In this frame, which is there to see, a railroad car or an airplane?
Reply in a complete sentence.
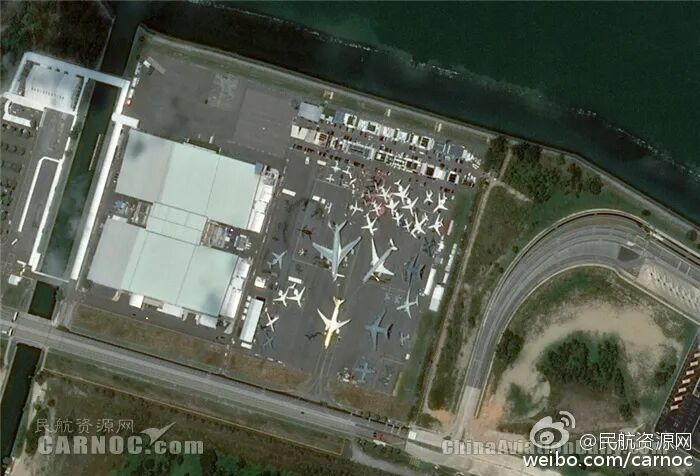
There is an airplane in the scene.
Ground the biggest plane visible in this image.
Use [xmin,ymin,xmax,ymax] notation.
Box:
[313,220,360,279]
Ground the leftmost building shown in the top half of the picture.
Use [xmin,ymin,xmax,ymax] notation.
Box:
[25,64,78,110]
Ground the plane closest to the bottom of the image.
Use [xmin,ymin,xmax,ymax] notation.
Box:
[353,362,375,380]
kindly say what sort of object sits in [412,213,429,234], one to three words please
airplane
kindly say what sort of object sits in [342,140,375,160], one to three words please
house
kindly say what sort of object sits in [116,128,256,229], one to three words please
building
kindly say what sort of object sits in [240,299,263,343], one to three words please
building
